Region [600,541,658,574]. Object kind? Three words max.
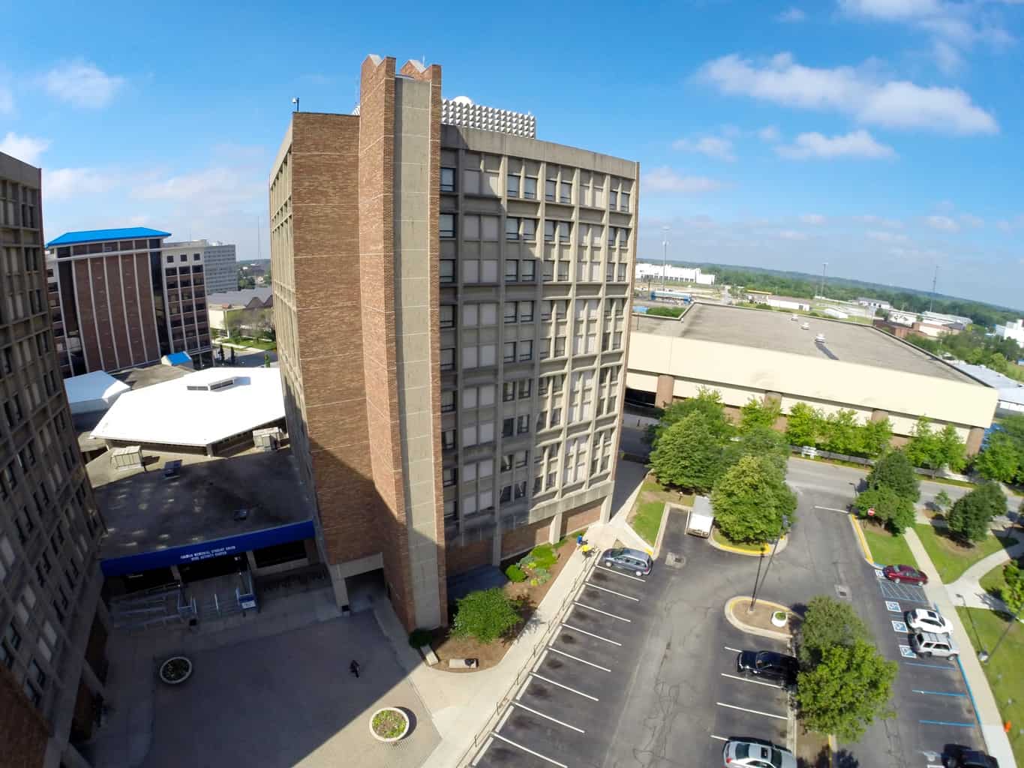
vehicle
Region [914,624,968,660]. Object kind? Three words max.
car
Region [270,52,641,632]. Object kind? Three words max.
building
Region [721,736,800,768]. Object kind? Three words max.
car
